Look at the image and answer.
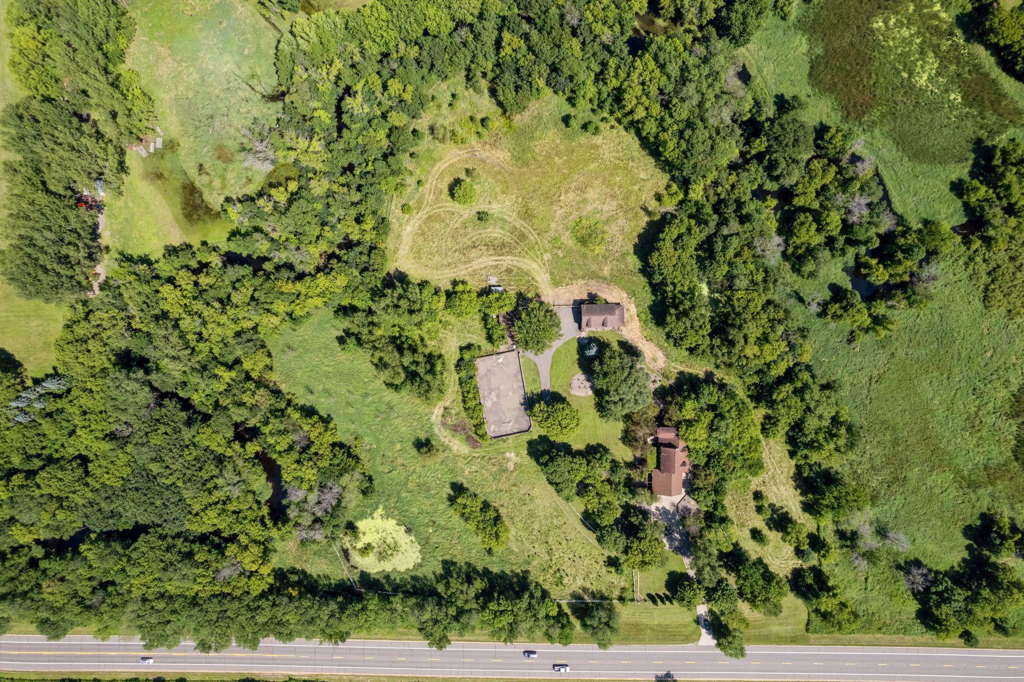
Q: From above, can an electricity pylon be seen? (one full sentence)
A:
No, the frame has no electricity pylon in it.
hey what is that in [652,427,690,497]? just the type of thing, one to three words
house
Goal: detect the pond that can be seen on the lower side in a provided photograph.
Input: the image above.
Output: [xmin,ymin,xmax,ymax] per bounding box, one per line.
[350,503,423,574]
